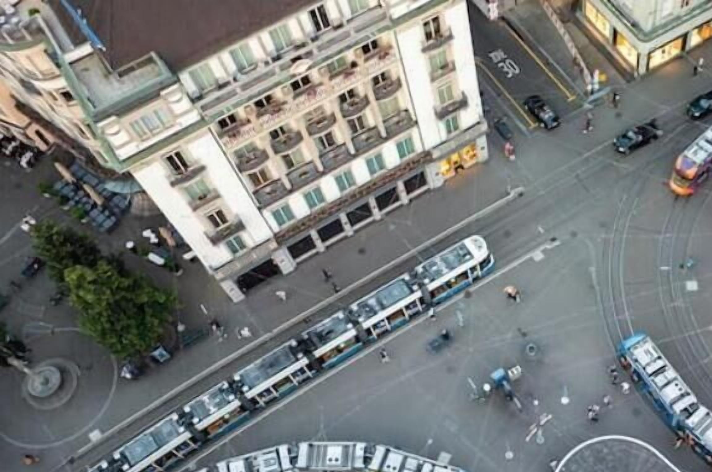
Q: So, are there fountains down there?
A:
Yes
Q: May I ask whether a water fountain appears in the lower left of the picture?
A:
Yes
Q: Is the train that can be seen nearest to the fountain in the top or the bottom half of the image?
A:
bottom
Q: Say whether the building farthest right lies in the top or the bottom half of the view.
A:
top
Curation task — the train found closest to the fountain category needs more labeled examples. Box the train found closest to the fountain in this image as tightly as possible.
[90,244,498,472]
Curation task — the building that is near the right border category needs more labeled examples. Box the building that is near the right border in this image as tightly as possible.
[559,0,712,76]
